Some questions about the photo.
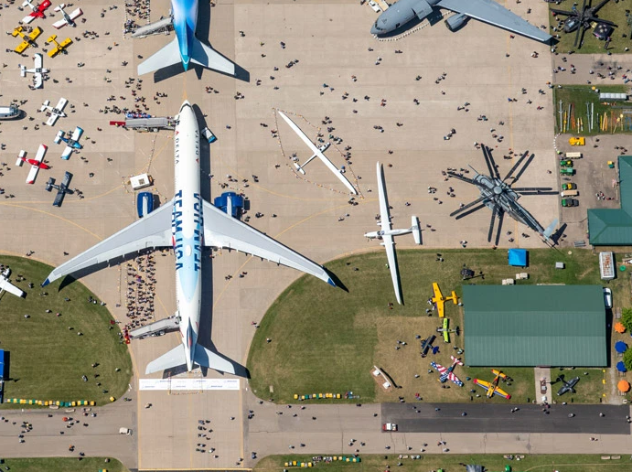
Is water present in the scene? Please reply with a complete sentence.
No, the picture contains no water.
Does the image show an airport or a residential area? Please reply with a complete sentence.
The area seen from above is an airport.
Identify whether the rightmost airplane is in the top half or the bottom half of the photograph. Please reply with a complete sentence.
The rightmost airplane is in the bottom half of the image.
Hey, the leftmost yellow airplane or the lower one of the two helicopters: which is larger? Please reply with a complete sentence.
It is the helicopter that is larger, not the airplane.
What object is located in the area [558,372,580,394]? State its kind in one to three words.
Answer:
airplane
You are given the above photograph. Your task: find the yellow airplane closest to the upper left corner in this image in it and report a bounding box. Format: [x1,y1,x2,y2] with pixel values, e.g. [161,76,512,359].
[13,24,43,54]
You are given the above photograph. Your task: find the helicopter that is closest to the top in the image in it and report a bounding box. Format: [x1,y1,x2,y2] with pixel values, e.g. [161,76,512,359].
[550,0,620,46]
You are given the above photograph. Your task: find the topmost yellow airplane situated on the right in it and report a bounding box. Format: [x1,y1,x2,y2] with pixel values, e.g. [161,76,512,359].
[427,282,459,318]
